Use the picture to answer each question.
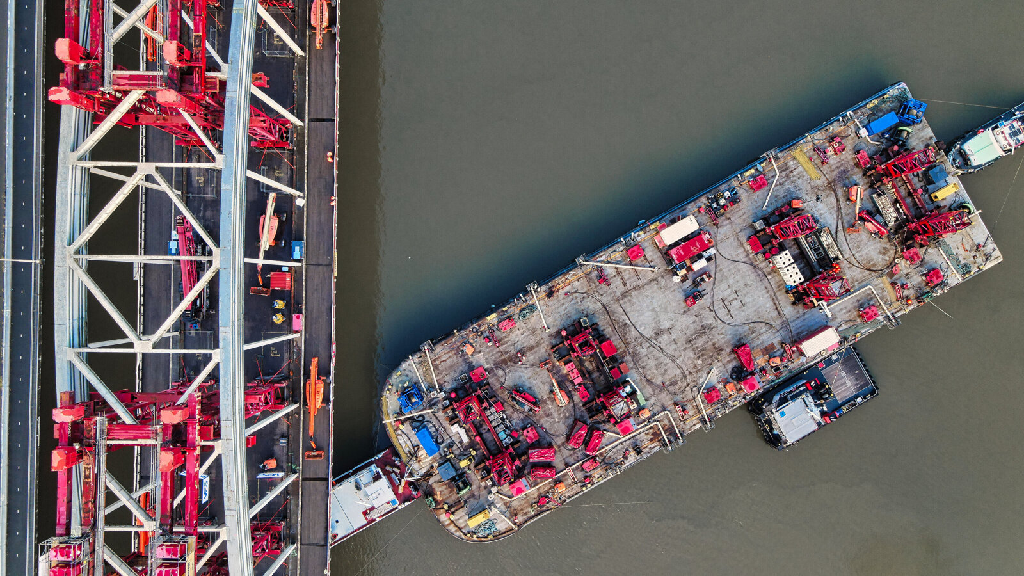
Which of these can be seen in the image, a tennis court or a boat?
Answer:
boat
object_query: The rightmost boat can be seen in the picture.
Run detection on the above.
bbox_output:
[944,102,1024,173]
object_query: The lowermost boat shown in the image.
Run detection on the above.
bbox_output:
[332,446,421,547]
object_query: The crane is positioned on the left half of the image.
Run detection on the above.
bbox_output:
[175,213,219,330]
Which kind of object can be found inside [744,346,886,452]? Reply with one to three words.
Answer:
boat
